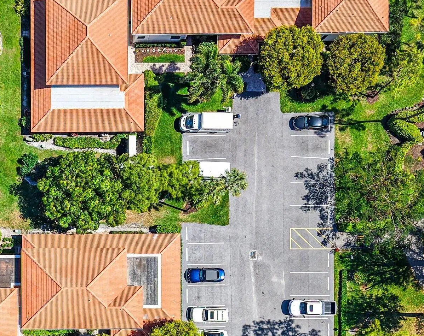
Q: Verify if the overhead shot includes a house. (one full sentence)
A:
Yes, the image includes a house.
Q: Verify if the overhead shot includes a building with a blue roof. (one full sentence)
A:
No, I find no building with a blue roof anywhere in the image.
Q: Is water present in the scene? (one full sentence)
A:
No, water can't be seen anywhere here.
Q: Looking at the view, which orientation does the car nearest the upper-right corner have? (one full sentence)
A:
The car nearest the upper-right corner is oriented horizontally.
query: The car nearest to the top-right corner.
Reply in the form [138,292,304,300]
[290,112,331,132]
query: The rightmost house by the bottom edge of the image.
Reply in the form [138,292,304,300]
[21,233,181,336]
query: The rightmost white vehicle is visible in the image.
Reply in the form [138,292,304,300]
[287,298,338,317]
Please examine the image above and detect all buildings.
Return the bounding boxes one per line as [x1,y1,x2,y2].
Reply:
[30,0,144,133]
[131,0,390,58]
[21,233,181,336]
